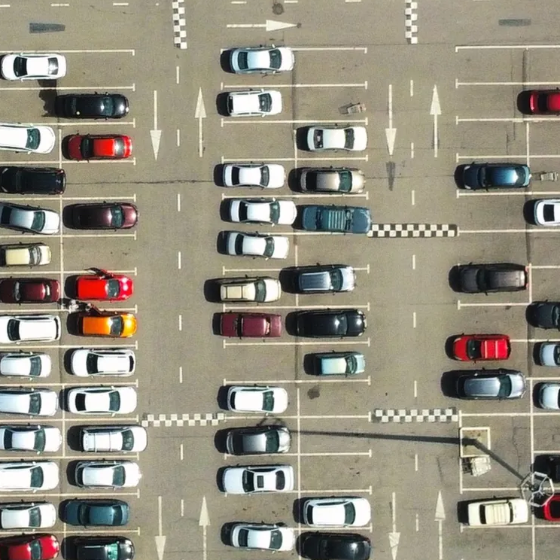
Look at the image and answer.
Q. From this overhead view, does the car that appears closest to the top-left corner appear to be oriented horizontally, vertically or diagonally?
horizontally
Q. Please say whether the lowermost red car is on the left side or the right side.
left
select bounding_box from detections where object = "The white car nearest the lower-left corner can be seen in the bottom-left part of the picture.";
[0,501,56,533]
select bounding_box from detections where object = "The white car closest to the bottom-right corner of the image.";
[466,496,528,529]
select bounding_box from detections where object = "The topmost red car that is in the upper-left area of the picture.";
[64,131,133,162]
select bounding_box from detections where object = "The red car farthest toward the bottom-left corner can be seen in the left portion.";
[0,533,60,560]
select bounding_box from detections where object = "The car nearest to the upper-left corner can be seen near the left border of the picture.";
[1,51,67,82]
